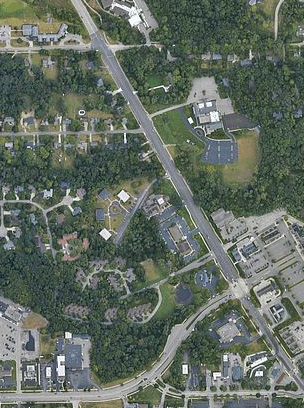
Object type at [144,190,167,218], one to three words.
building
